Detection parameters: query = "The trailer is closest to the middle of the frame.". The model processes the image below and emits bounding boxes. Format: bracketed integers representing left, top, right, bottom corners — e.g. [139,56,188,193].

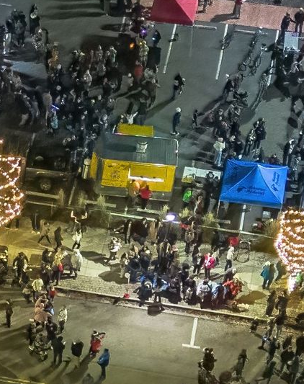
[79,115,180,212]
